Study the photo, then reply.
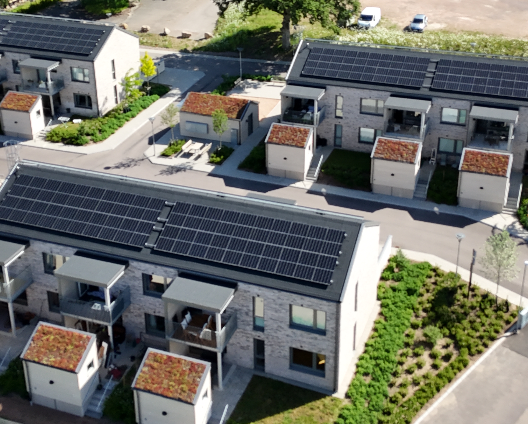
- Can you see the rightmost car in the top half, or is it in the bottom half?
top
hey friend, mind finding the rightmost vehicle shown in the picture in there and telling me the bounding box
[409,10,429,29]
